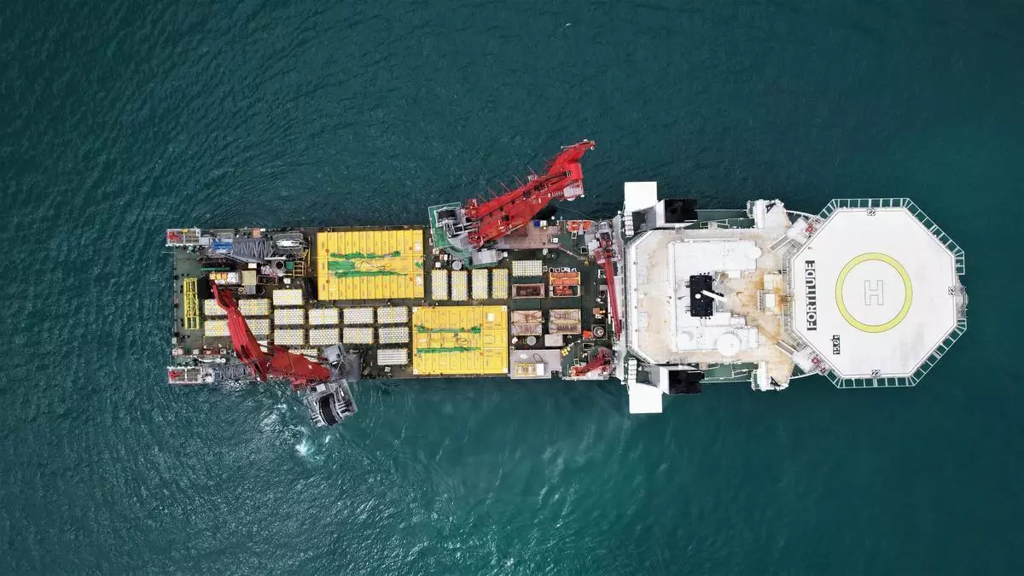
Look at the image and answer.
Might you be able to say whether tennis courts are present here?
No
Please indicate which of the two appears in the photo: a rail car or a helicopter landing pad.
helicopter landing pad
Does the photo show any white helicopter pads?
Yes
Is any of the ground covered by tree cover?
No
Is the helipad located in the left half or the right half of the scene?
right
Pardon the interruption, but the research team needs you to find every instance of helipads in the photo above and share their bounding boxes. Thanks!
[769,199,970,388]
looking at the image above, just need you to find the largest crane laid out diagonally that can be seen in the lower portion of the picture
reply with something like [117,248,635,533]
[208,279,362,427]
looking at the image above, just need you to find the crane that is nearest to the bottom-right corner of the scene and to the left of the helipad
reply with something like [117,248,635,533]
[569,348,612,378]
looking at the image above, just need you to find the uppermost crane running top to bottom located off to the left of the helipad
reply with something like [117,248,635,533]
[586,220,621,341]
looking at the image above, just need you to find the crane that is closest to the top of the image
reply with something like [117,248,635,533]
[428,138,596,266]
